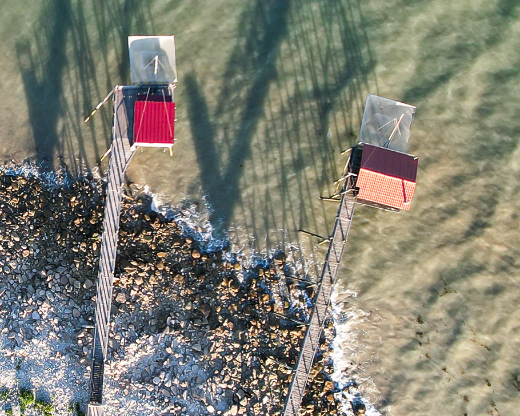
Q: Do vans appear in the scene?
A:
No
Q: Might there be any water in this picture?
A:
Yes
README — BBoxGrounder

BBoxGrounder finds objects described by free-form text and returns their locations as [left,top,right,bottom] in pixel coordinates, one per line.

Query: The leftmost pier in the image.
[81,80,182,416]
